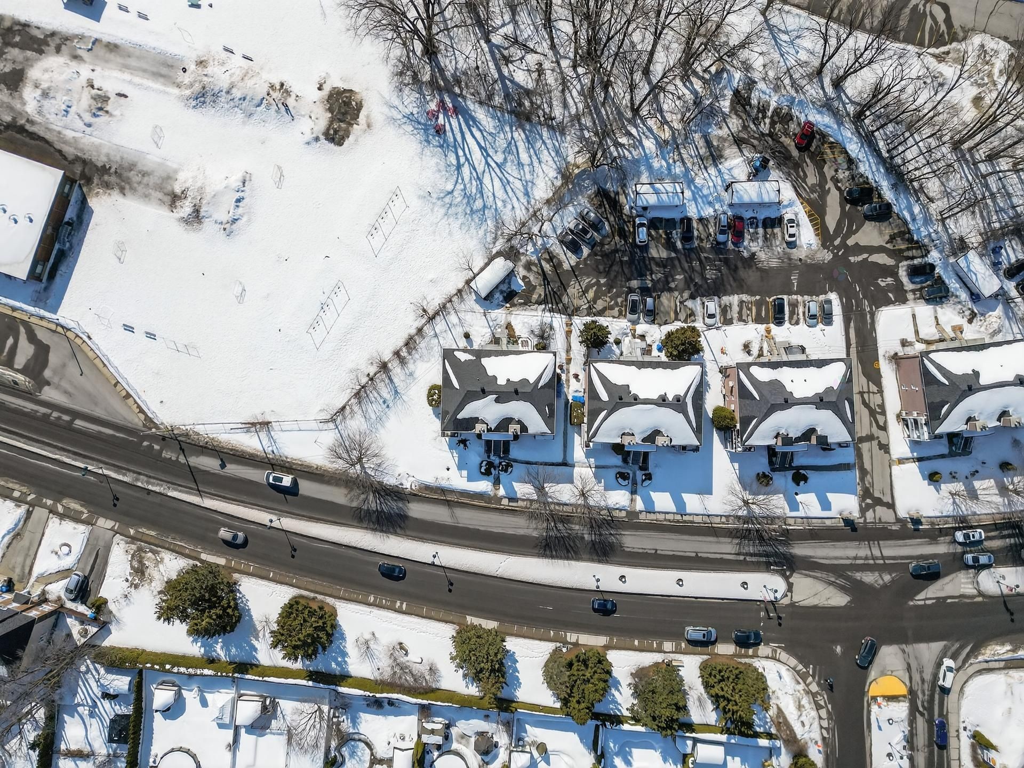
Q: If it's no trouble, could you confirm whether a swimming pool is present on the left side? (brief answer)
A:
Yes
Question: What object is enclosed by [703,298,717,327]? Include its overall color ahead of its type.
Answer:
white car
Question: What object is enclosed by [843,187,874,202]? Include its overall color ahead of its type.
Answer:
black car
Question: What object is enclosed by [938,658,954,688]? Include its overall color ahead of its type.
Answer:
white car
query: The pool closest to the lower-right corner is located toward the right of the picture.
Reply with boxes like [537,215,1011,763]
[609,737,666,768]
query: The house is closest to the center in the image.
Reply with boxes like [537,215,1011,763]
[441,349,557,455]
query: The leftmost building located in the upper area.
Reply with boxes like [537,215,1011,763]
[0,148,83,285]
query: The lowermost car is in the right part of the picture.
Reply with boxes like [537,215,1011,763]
[933,717,948,744]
